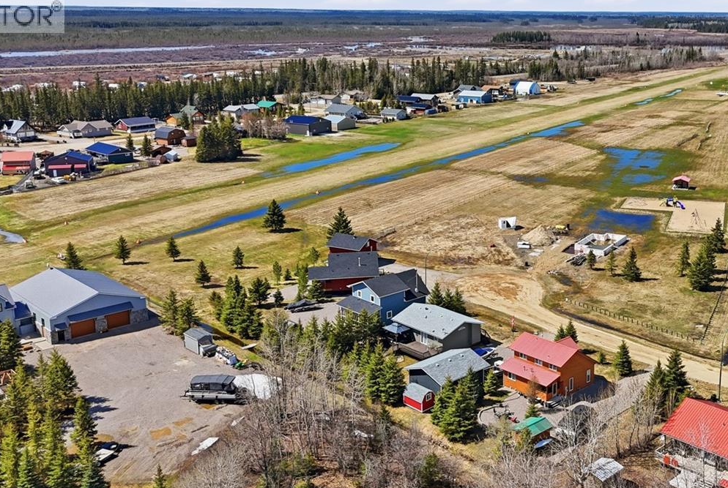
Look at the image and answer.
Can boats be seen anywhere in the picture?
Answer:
Yes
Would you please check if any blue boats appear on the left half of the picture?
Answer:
No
